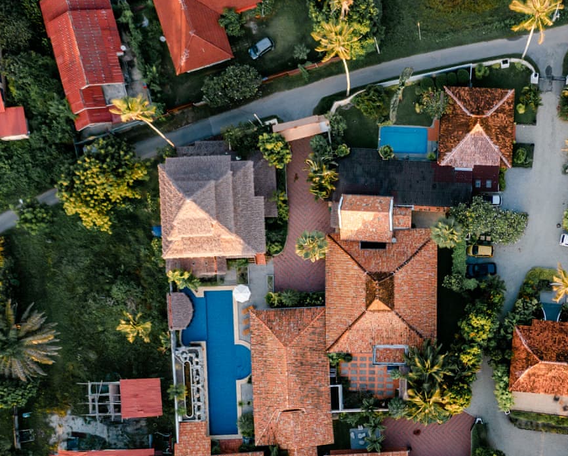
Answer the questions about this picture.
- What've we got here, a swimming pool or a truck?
swimming pool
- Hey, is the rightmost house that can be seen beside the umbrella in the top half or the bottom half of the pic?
bottom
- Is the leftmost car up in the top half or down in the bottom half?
top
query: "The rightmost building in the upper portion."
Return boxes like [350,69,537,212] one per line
[439,85,515,169]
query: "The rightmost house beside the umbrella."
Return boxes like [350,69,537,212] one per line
[249,306,333,456]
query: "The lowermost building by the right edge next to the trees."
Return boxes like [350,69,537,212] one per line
[510,320,568,416]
